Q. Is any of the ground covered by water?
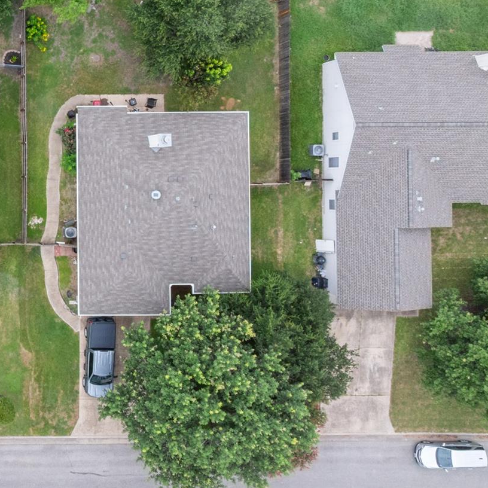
No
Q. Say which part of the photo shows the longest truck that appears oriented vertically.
bottom left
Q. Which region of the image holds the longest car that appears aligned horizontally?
bottom right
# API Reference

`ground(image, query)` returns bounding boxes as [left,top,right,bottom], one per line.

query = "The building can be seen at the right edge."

[323,45,488,312]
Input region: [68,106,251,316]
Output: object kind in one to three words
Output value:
house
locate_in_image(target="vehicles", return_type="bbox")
[81,316,120,398]
[413,439,484,474]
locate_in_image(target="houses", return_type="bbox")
[323,45,488,312]
[68,106,251,316]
